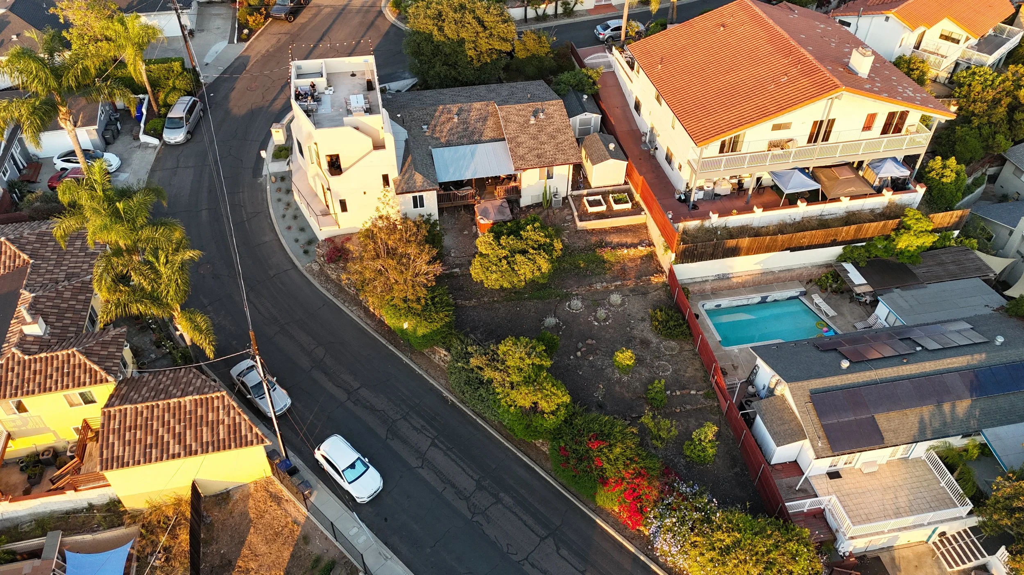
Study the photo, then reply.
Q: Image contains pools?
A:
Yes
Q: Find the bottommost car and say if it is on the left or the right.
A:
left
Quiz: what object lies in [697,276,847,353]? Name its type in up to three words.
swimming pool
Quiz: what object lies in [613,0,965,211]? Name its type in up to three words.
house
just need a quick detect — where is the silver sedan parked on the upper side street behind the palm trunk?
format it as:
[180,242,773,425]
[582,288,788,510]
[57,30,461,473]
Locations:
[594,19,646,43]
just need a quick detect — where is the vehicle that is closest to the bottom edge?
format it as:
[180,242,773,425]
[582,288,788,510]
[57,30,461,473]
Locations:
[312,433,383,505]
